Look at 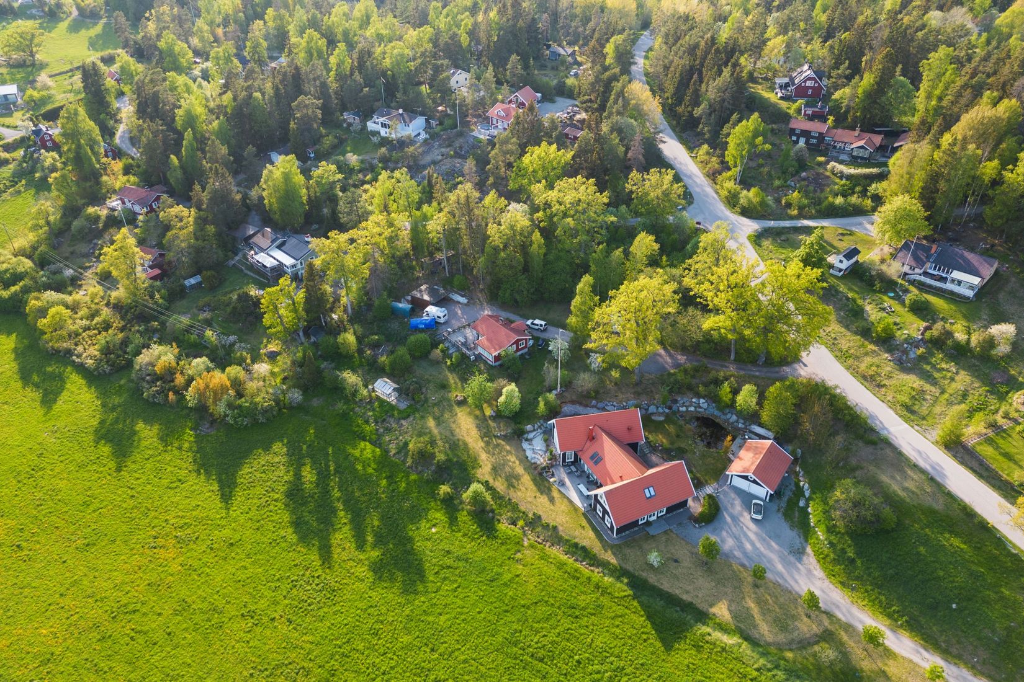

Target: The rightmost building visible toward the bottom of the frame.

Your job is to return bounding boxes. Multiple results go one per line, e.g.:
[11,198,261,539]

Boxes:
[724,440,796,506]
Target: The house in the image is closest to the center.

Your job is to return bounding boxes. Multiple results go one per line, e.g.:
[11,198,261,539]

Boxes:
[442,314,541,370]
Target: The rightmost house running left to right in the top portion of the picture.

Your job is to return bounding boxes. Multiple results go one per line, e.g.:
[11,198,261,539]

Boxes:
[897,239,998,297]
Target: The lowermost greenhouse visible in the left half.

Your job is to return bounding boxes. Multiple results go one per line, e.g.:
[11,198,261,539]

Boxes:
[377,379,407,403]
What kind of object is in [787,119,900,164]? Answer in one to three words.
house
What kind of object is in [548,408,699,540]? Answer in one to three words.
house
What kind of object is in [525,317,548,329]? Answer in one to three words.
vehicle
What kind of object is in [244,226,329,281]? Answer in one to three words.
building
